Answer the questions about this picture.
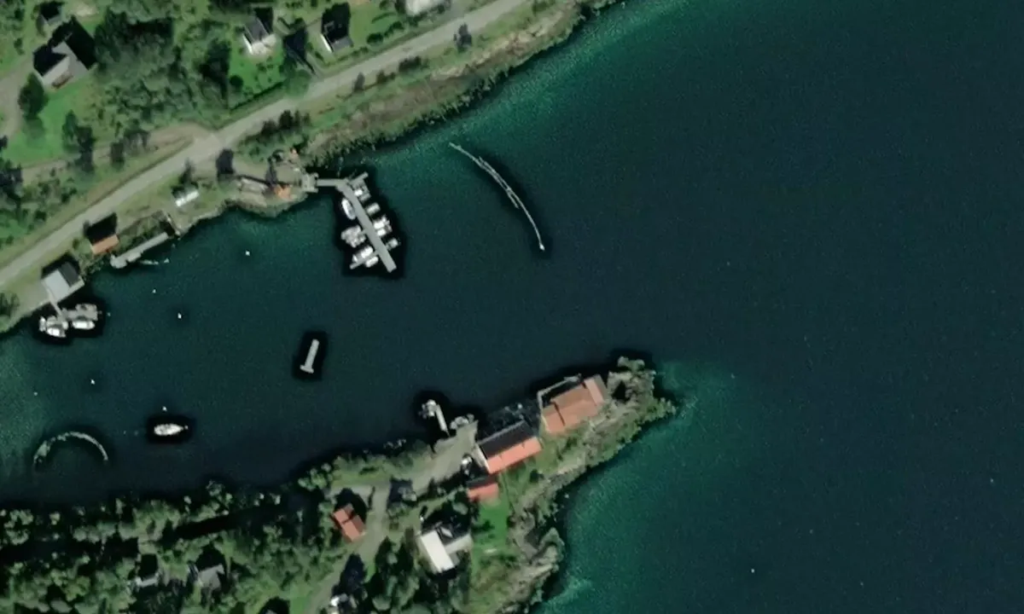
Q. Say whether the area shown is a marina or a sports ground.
marina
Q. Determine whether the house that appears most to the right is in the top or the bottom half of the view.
bottom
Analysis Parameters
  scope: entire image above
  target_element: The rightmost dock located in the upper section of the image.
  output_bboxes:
[317,172,398,273]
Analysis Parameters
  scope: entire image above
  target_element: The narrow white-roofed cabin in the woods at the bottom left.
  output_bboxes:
[132,565,160,585]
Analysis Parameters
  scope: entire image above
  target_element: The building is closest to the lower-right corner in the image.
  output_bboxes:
[537,375,611,431]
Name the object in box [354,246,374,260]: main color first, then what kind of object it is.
white boat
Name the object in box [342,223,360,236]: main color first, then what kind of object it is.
white boat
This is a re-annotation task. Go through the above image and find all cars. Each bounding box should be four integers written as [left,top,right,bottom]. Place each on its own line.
[462,465,470,477]
[461,455,471,467]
